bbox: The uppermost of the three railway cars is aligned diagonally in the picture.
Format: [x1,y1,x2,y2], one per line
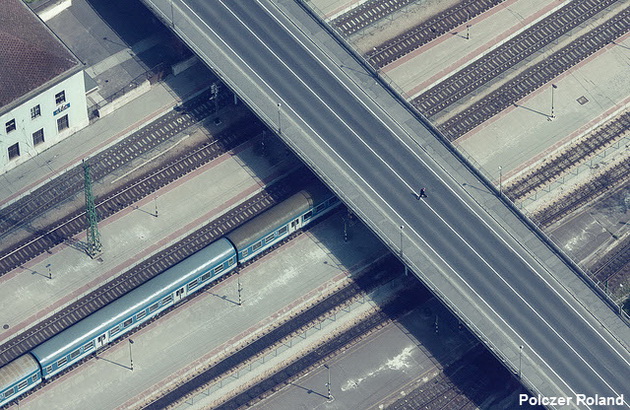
[223,175,342,262]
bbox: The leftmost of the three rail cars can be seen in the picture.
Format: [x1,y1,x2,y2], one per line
[0,350,41,405]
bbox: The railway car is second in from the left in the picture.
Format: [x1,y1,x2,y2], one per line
[27,233,237,379]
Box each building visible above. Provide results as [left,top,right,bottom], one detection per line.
[0,0,99,175]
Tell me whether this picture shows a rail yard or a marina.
rail yard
